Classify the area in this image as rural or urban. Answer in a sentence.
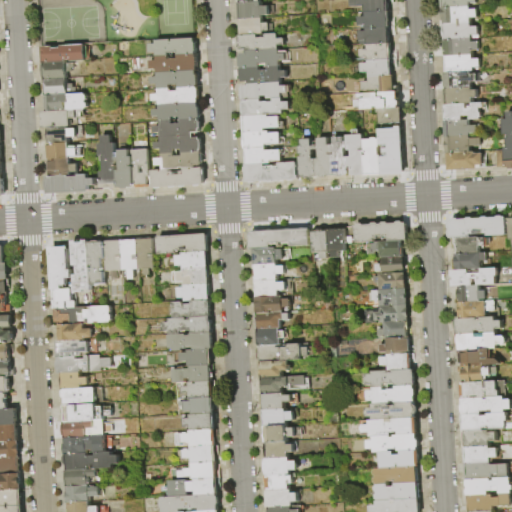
The area is urban.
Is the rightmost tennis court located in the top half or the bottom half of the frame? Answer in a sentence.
The rightmost tennis court sits in the top half of the picture.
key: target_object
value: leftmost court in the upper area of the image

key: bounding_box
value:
[42,4,102,42]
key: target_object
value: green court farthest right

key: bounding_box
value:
[159,0,194,34]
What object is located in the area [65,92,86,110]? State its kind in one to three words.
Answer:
building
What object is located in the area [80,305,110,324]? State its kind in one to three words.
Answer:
building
